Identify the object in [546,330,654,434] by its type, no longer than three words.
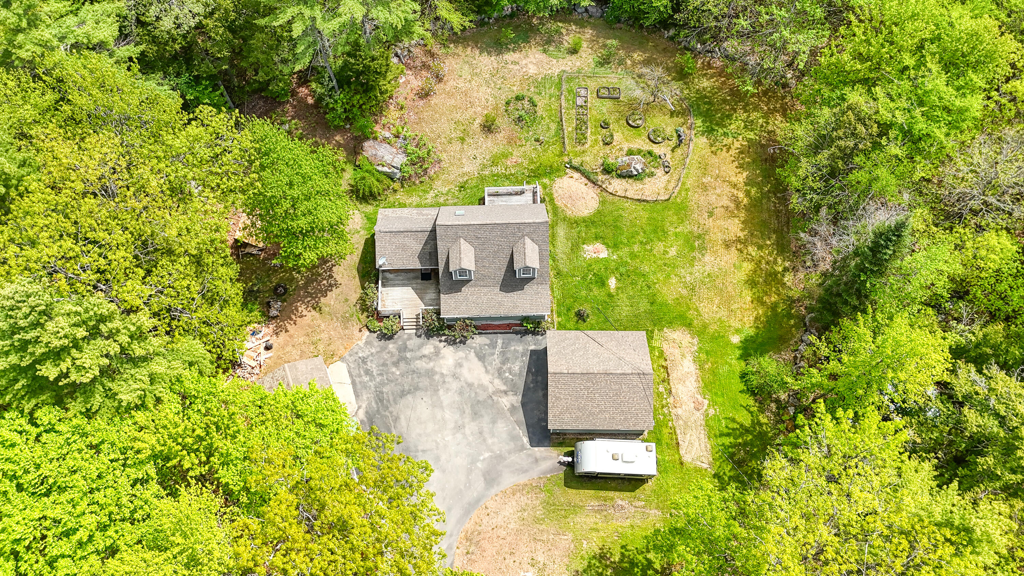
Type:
building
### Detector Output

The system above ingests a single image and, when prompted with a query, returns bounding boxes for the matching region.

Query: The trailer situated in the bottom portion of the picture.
[557,439,658,481]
